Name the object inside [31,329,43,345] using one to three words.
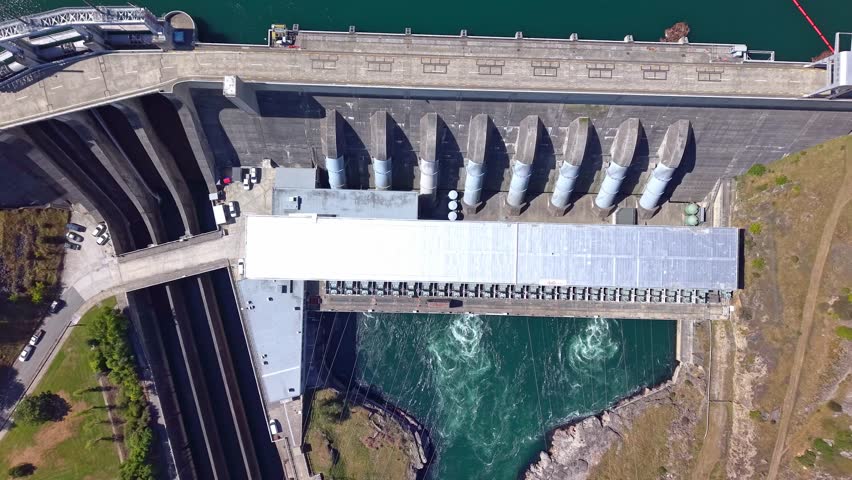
vehicle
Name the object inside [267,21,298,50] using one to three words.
crane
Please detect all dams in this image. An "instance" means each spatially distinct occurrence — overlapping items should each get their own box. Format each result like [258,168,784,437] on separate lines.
[0,30,852,200]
